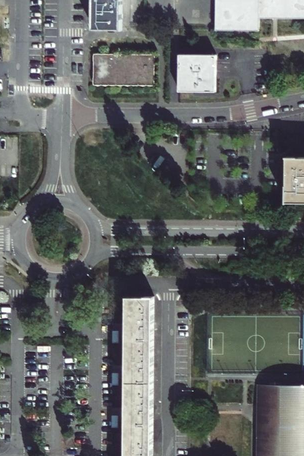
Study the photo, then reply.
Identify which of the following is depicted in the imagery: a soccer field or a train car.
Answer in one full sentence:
Of the two, only a soccer field appears.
